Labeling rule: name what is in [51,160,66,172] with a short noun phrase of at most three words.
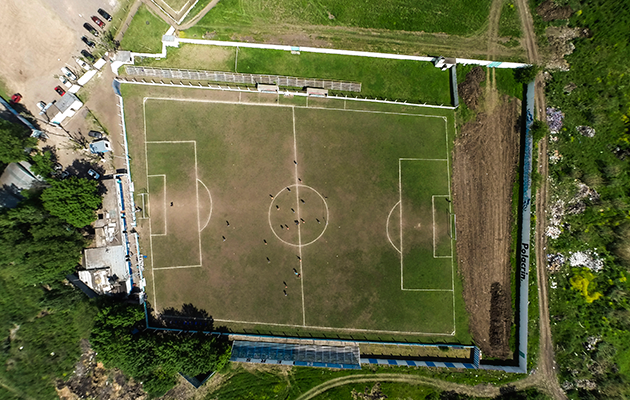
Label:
vehicle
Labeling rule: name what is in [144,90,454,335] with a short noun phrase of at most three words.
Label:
soccer field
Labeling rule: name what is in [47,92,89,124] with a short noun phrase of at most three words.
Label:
shed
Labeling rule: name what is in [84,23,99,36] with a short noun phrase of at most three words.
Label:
vehicle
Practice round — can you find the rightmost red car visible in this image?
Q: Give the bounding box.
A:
[90,15,106,28]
